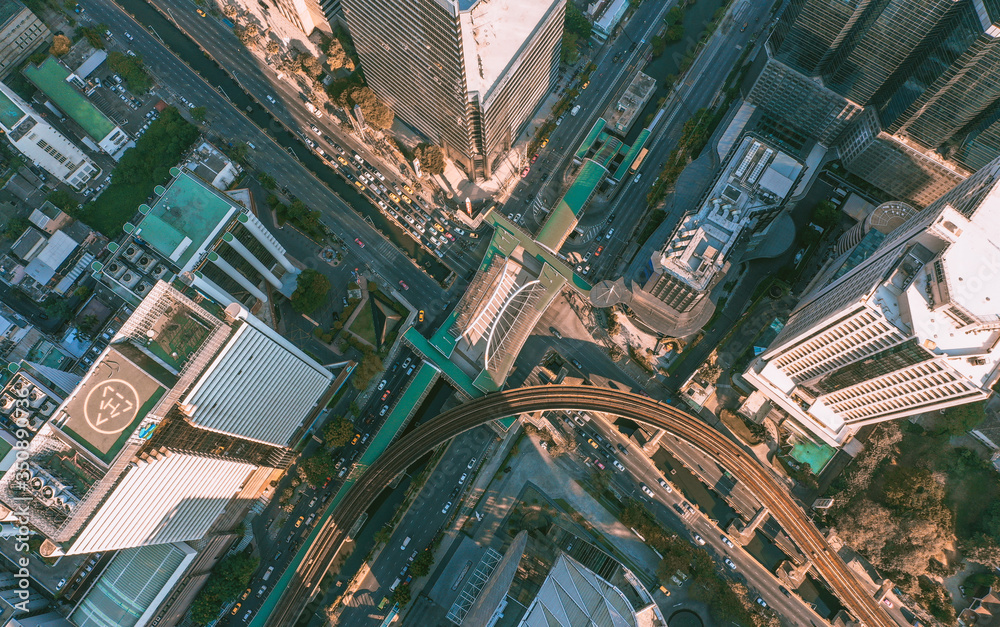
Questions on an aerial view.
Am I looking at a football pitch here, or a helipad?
helipad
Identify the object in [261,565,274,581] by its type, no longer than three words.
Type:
vehicle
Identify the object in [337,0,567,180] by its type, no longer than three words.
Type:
building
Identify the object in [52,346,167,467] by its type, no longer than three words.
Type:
helipad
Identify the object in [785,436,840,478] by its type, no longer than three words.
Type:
swimming pool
